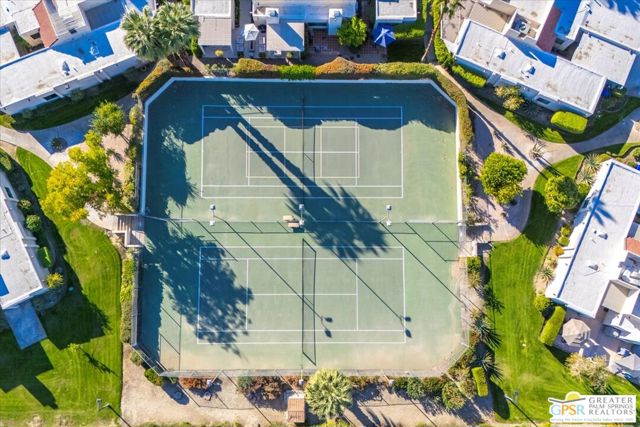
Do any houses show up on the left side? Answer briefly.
Yes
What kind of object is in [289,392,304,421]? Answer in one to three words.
shed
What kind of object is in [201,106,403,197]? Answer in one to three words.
tennis court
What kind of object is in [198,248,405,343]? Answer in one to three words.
tennis court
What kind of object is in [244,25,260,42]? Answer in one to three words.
umbrella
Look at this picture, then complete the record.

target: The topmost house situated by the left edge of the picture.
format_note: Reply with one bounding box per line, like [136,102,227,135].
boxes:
[0,0,164,118]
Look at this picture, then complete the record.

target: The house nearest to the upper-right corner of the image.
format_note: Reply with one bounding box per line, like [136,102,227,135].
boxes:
[555,0,640,93]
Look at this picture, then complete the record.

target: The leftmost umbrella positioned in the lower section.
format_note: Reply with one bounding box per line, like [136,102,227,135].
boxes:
[561,318,588,346]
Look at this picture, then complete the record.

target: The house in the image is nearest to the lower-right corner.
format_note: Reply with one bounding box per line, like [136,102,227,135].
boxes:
[547,161,640,339]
